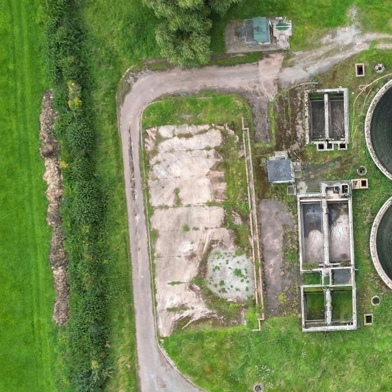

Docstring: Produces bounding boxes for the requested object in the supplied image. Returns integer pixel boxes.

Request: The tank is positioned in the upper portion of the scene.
[305,85,349,151]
